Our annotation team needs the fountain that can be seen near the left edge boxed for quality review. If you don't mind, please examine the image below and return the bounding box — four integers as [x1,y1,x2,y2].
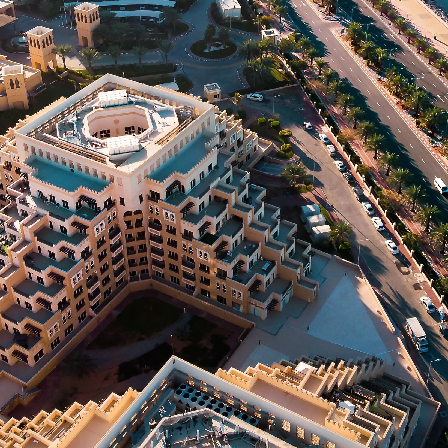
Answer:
[1,33,30,51]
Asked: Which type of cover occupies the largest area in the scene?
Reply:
buildings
